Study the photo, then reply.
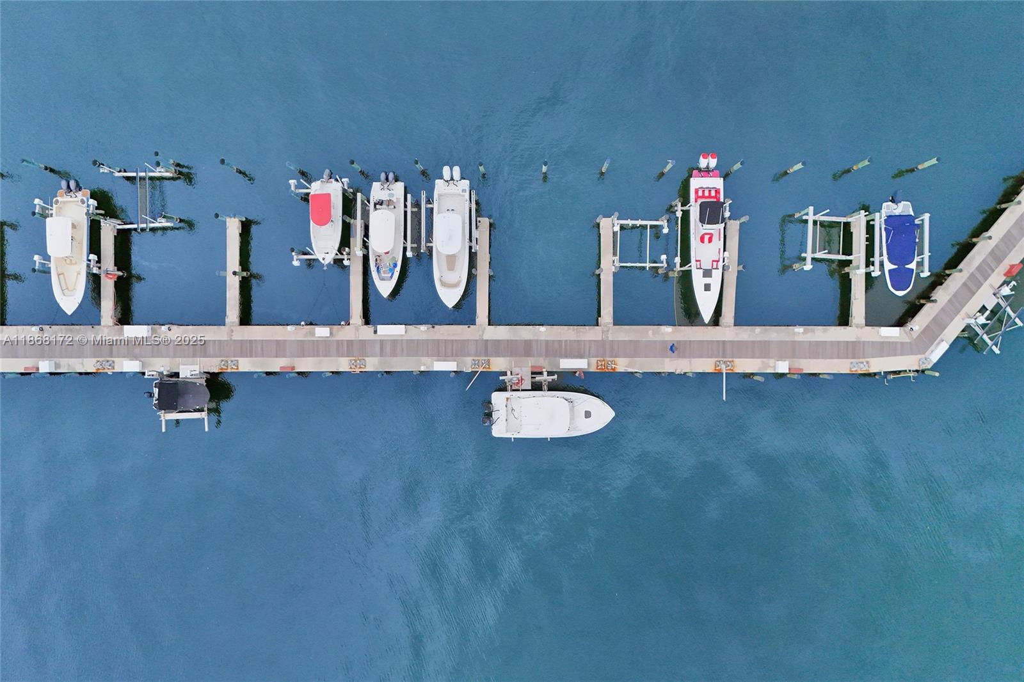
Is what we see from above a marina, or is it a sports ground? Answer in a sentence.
This looks like a marina.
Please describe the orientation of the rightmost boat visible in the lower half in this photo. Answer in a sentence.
In this picture, the rightmost boat visible in the lower half is oriented from side to side.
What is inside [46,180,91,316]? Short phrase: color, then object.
white boat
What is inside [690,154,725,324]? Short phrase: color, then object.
white boat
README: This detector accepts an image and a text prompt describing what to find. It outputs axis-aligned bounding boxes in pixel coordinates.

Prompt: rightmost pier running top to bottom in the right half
[848,215,866,327]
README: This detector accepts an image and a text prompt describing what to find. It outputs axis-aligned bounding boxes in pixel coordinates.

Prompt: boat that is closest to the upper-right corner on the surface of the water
[879,191,920,297]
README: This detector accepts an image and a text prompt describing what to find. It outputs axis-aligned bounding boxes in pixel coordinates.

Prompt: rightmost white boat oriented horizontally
[482,391,616,438]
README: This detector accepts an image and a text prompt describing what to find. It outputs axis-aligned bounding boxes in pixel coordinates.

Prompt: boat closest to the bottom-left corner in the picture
[145,379,212,411]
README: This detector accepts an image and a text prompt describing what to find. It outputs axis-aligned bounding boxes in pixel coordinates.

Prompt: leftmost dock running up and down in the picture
[101,223,119,326]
